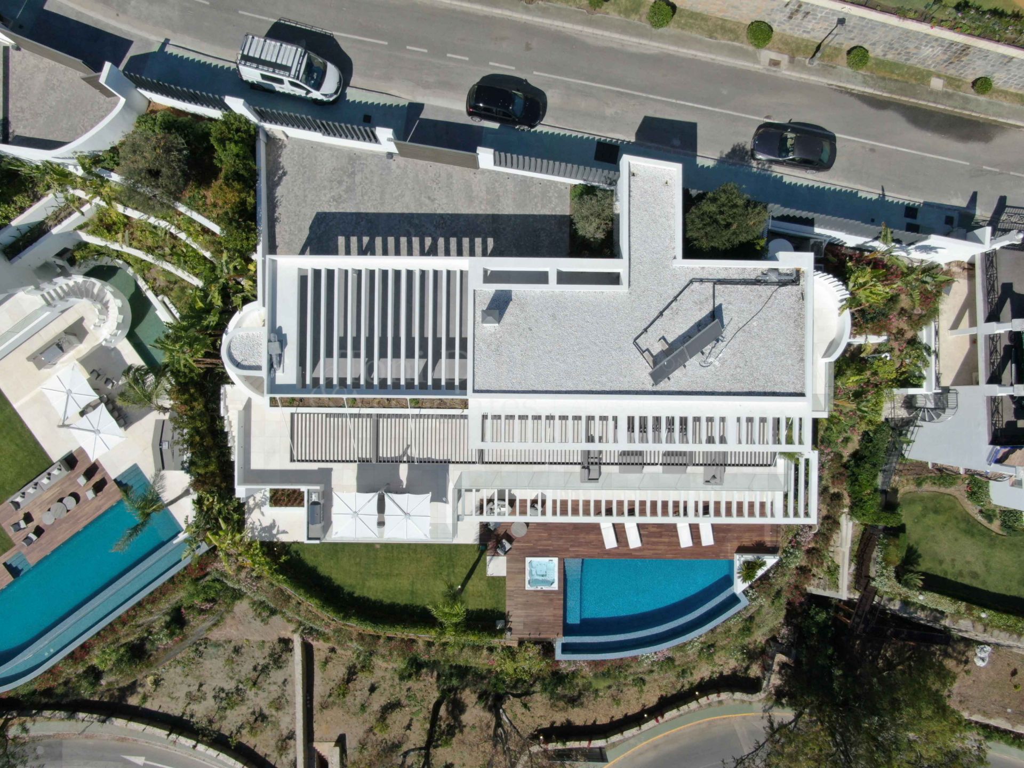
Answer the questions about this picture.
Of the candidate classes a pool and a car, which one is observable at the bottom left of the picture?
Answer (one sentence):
There is a pool at the bottom left of the picture.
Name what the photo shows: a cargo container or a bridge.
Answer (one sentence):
Visible in the photo is a bridge.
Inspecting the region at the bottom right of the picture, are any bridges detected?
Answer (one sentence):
Yes, the scene does show a bridge at the bottom right of the picture.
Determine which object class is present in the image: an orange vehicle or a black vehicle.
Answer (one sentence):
It is a black vehicle that can be seen here.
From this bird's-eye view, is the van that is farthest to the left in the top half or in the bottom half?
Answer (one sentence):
You can find the van that is farthest to the left in the top half.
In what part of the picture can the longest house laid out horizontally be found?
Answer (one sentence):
Look in the center portion of the view to spot the longest house laid out horizontally.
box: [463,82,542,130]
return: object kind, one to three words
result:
car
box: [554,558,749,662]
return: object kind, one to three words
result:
swimming pool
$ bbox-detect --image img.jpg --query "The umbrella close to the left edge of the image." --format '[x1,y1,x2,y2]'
[41,364,128,461]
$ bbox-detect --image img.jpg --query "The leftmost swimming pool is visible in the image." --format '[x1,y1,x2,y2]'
[0,465,216,696]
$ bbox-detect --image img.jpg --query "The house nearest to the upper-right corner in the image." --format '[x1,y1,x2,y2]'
[945,257,1024,404]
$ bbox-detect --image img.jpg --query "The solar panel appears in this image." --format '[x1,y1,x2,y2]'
[639,319,723,385]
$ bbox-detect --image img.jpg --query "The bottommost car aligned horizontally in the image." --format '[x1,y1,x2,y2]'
[751,122,845,172]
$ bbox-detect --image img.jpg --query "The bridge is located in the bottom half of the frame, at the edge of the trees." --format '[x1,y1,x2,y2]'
[837,589,952,651]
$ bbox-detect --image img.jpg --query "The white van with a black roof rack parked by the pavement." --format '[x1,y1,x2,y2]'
[226,32,341,102]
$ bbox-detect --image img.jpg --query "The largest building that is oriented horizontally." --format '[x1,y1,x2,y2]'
[222,156,851,451]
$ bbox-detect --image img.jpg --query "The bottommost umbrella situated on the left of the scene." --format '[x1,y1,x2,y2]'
[332,478,431,539]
